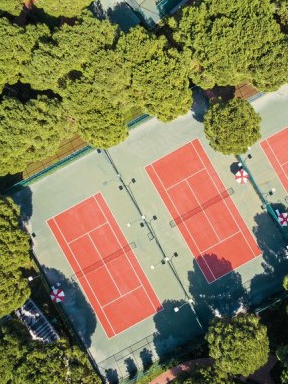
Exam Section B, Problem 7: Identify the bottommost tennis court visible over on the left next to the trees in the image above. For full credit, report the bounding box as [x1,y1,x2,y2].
[6,146,204,384]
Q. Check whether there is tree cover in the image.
Yes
